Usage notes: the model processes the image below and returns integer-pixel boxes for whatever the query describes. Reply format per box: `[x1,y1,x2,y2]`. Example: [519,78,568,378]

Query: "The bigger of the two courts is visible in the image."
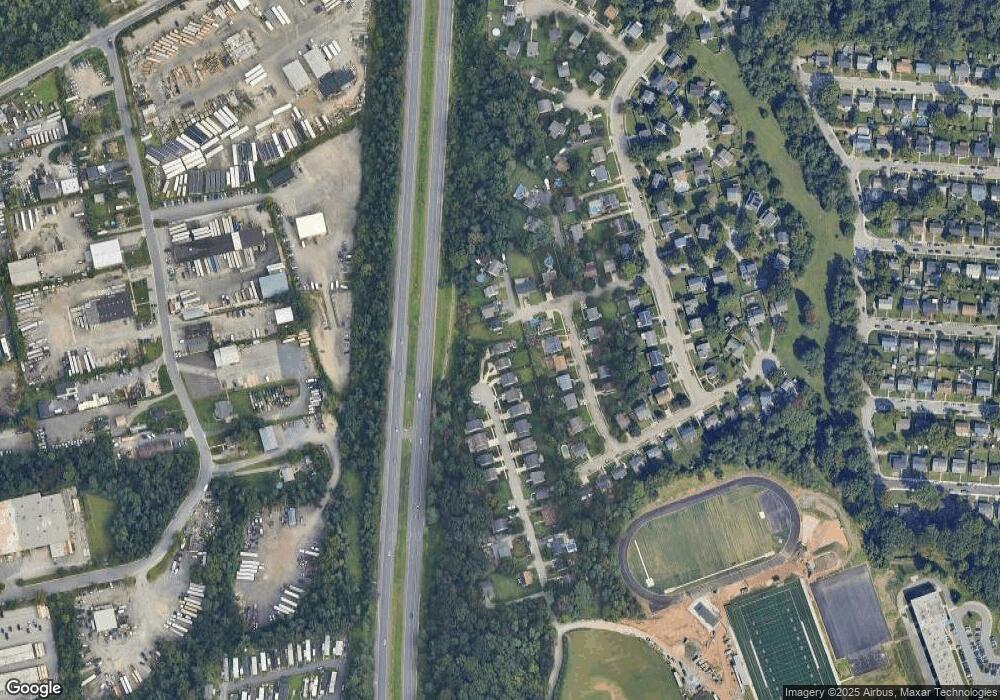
[811,565,892,658]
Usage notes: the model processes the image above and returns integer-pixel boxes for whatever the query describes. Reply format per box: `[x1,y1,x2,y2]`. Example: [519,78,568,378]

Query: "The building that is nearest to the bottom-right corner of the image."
[912,591,979,700]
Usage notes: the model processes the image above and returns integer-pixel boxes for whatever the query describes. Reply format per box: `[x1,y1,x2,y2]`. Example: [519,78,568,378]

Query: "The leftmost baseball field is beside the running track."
[562,630,674,700]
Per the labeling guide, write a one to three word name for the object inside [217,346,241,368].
building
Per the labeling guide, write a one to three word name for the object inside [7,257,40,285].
building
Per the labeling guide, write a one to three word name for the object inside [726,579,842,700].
sports field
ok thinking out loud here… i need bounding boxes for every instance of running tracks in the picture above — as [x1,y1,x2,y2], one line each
[613,474,802,612]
